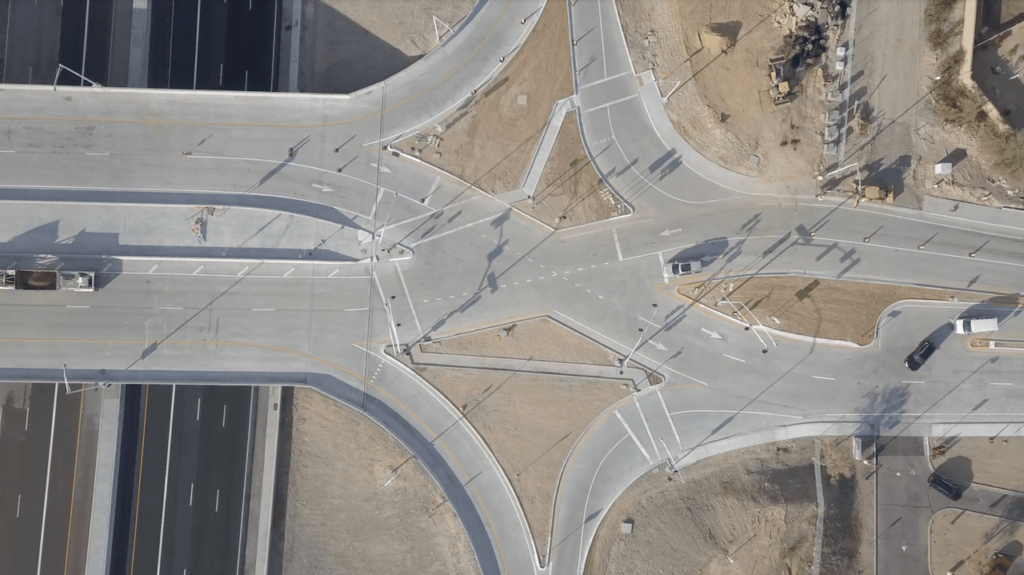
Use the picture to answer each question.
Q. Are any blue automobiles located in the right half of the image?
No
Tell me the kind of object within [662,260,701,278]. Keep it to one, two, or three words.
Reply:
car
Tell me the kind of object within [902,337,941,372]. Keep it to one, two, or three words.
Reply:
car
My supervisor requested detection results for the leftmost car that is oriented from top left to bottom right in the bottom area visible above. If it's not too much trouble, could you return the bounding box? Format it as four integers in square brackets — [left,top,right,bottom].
[925,470,966,501]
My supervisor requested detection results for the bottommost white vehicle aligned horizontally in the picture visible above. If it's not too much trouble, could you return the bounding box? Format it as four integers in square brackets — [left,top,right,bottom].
[955,317,1001,336]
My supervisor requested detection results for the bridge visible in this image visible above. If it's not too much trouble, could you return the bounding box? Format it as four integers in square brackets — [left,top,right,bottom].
[0,79,387,412]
